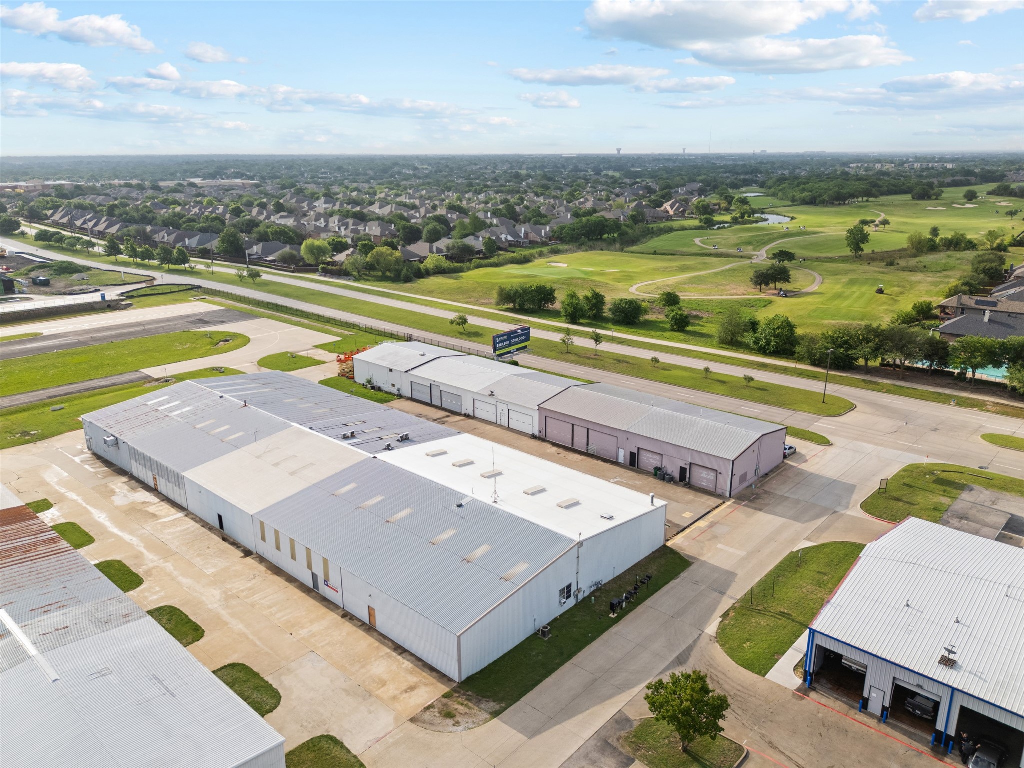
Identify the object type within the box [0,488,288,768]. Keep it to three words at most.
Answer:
warehouse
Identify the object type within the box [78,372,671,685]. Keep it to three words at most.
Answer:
warehouse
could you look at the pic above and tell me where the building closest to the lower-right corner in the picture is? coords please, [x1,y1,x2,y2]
[800,512,1024,768]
